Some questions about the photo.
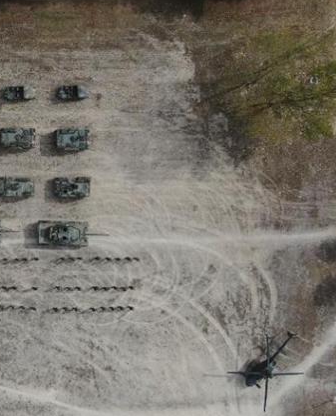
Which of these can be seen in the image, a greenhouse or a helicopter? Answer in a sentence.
I can see a helicopter in this picture.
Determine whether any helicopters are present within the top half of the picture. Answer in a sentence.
No, no helicopter is visible within the top half of the picture.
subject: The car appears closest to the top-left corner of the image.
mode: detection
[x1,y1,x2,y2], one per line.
[1,87,34,101]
